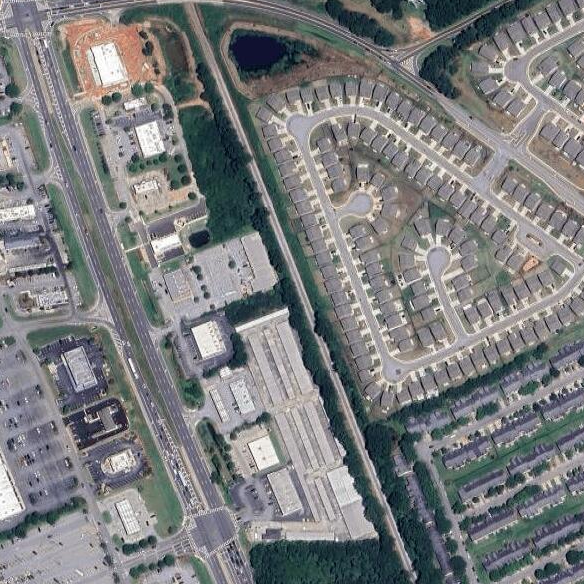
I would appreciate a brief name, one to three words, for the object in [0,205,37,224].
building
